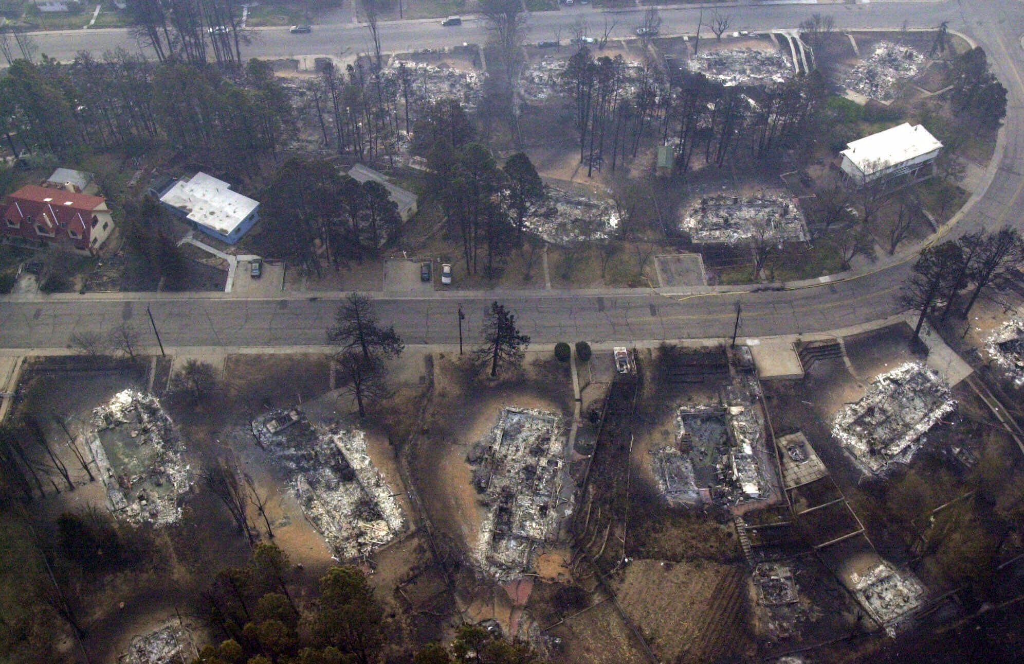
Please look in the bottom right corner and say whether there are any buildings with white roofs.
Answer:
No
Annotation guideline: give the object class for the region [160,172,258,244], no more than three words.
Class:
house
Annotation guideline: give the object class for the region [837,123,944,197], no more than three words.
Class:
house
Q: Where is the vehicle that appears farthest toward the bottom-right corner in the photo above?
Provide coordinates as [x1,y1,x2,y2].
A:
[616,347,629,370]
